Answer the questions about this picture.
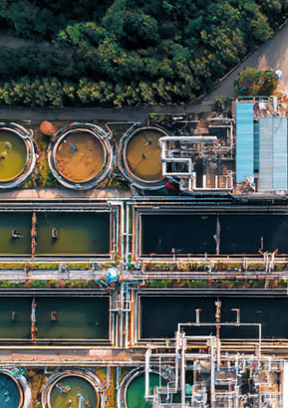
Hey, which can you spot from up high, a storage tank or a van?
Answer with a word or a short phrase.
storage tank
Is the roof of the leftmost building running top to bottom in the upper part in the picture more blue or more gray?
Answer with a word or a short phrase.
blue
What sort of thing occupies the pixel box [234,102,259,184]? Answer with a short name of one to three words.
building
